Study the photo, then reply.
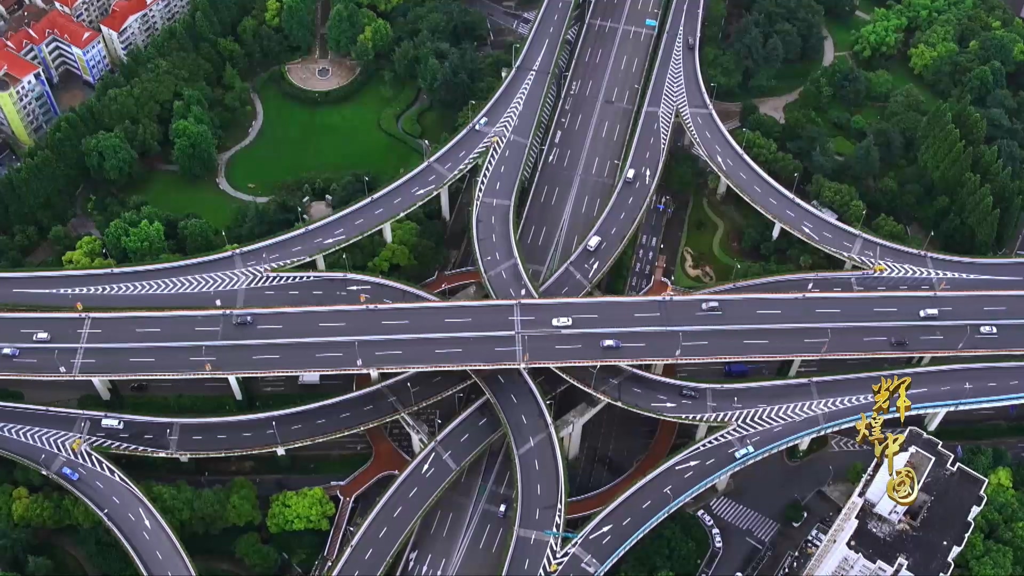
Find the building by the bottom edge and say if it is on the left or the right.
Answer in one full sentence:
The building by the bottom edge is on the right side of the image.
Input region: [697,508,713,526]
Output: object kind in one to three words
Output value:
car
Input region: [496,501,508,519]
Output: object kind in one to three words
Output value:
vehicle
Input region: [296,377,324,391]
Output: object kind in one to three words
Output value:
vehicle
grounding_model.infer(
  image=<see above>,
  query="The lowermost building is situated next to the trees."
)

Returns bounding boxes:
[809,425,990,576]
